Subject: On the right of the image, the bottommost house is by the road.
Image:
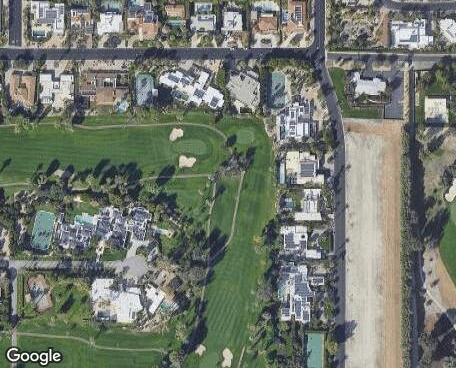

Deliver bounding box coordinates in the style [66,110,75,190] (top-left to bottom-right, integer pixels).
[279,265,324,324]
